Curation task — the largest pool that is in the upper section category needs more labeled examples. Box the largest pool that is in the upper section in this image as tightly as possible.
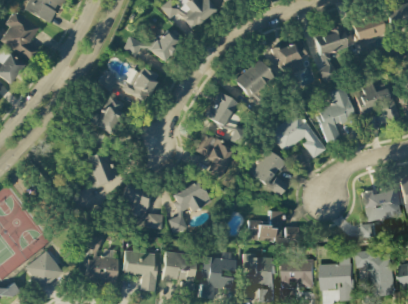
[106,60,130,78]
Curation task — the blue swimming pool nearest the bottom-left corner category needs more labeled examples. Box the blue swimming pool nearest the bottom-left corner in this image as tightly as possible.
[187,208,211,230]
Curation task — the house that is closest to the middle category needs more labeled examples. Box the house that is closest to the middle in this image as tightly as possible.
[195,136,232,172]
